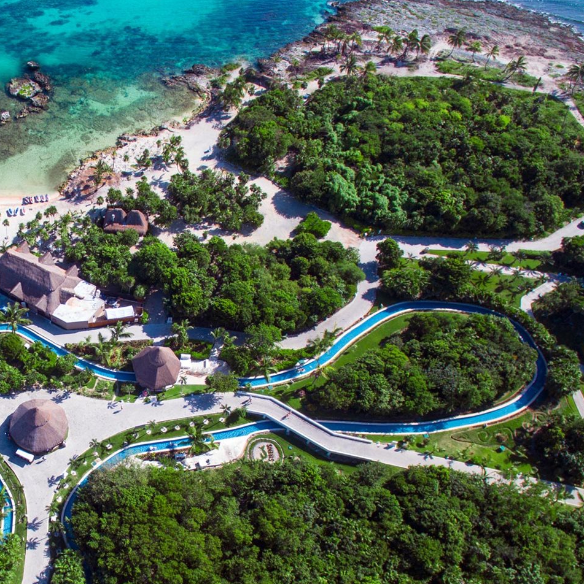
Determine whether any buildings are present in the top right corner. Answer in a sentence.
No, no building appears in the top right corner.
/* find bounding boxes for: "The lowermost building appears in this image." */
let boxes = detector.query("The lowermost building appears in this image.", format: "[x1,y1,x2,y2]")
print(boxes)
[9,404,67,458]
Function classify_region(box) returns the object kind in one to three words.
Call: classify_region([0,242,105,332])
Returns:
building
